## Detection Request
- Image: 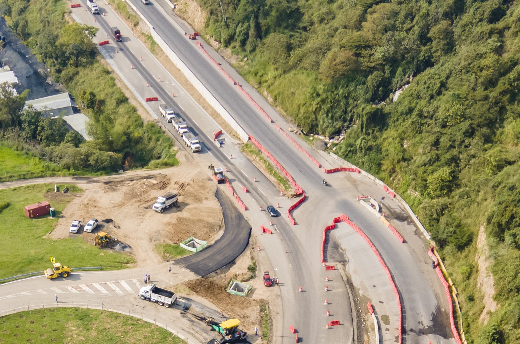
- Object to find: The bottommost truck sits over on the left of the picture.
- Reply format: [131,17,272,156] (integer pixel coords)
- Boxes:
[139,282,182,306]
